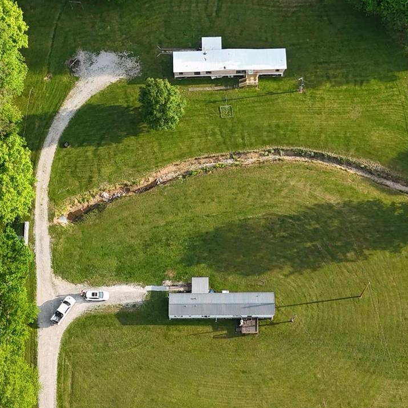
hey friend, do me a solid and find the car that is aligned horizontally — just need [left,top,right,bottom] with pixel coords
[83,289,109,301]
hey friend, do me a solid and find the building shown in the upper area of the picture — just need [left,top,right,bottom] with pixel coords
[173,37,288,79]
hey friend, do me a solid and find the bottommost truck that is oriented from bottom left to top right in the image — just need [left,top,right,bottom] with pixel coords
[48,295,77,327]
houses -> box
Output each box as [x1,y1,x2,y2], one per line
[173,37,288,79]
[168,277,275,320]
